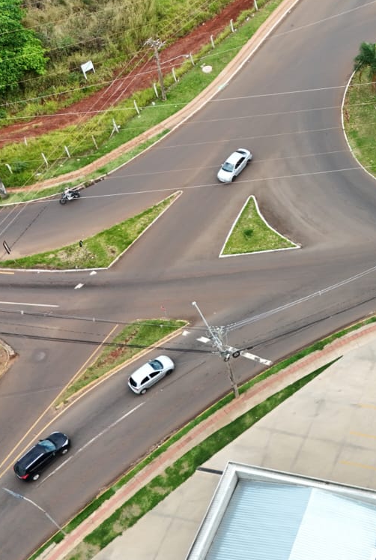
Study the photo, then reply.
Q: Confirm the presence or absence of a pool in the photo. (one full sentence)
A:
No, I can see no pool in this picture.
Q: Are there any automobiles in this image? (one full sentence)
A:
Yes, you can see an automobile in this photo.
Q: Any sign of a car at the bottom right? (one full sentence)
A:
No, I see no car at the bottom right.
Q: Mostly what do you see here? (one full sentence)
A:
The bulk of the photo consists of paved ground.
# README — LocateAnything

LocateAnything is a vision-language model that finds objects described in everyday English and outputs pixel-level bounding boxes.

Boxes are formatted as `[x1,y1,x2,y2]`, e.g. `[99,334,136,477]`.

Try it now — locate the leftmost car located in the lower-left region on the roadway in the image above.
[8,431,69,483]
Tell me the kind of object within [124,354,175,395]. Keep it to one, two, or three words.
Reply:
car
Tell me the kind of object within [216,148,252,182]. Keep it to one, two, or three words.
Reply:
car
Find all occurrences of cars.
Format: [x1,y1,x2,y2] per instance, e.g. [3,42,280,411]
[8,431,69,483]
[124,354,175,395]
[216,148,252,182]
